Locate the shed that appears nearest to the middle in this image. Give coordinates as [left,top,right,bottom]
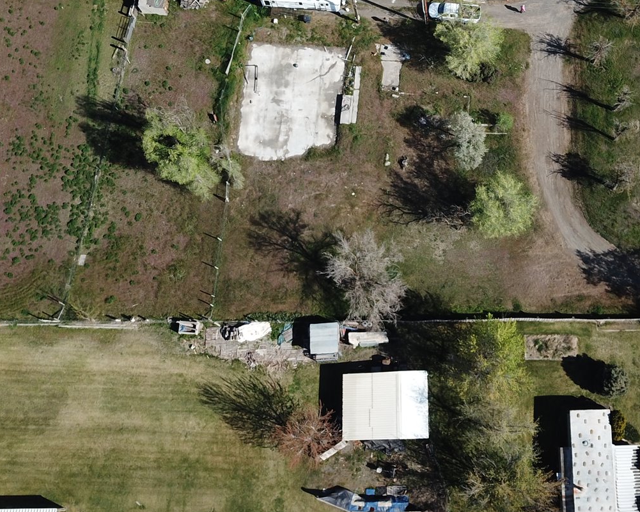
[309,323,340,355]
